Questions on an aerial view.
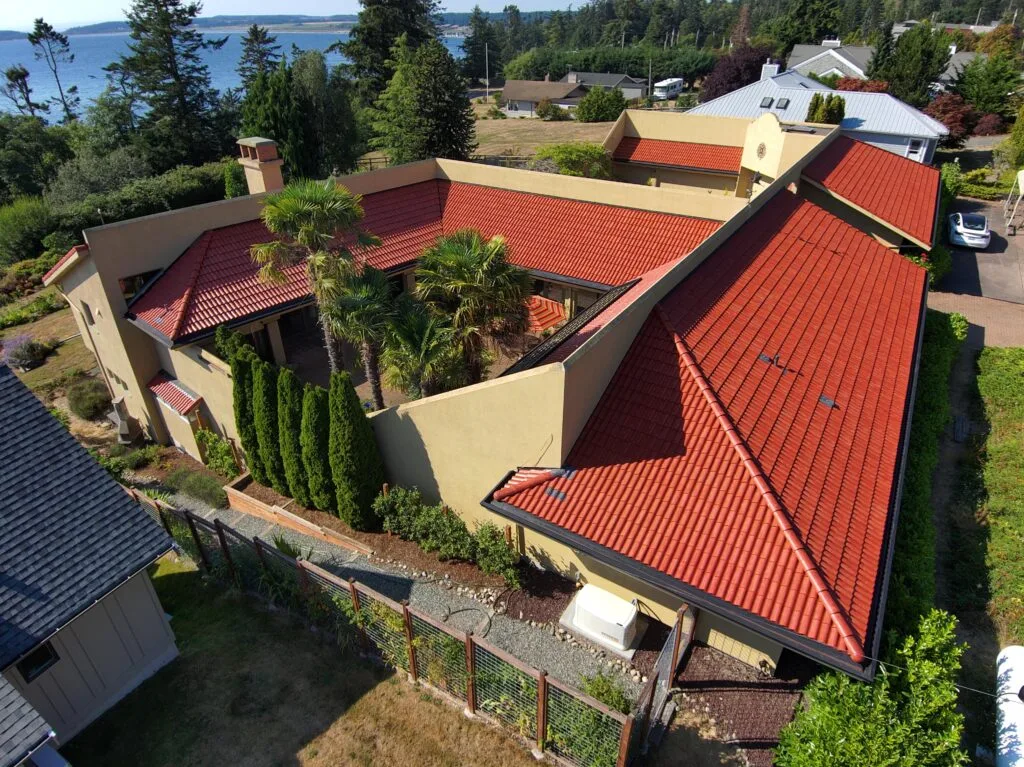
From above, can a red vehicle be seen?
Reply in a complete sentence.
No, I find no red vehicle anywhere in the image.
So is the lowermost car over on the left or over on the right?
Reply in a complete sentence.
The lowermost car appears in the right half of the scene.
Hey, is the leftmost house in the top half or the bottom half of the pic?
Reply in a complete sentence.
The bottom half of the photo is where the leftmost house is.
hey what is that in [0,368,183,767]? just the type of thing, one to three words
house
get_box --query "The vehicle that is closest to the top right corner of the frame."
[951,215,996,247]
